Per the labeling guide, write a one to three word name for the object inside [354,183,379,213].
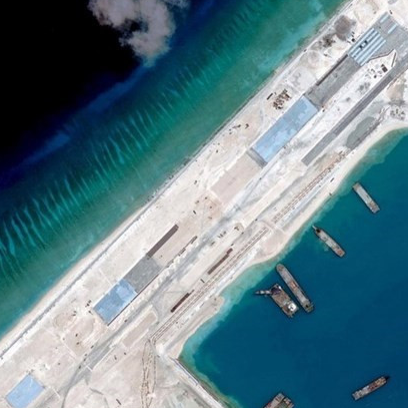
ship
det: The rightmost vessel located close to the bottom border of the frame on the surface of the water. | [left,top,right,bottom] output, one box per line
[353,376,387,398]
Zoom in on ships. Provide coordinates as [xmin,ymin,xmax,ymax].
[354,183,379,213]
[266,392,286,408]
[277,264,315,313]
[313,225,345,257]
[255,286,298,315]
[353,376,387,398]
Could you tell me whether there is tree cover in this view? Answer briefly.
No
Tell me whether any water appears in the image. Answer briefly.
Yes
